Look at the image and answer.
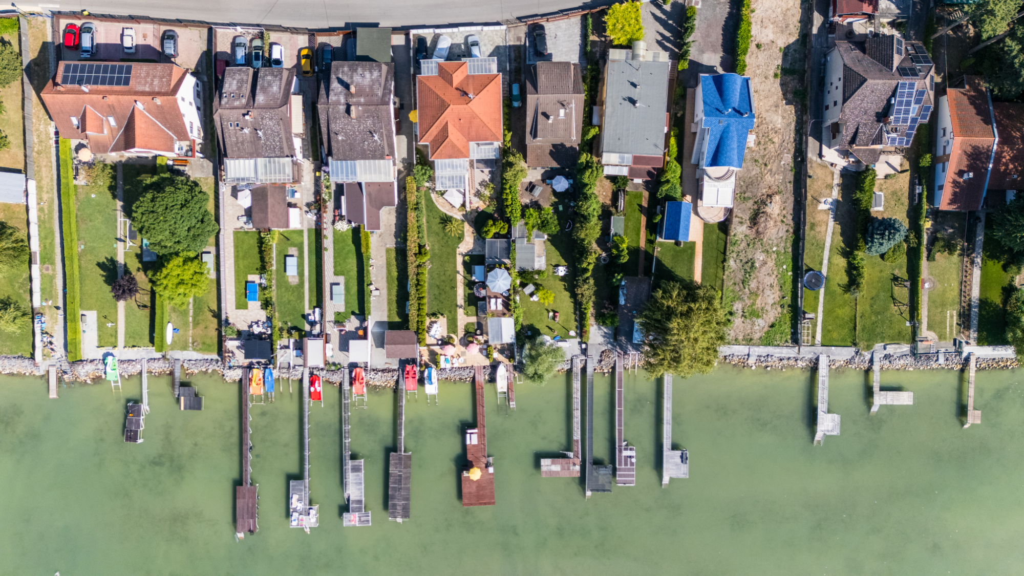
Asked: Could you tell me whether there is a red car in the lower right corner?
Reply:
No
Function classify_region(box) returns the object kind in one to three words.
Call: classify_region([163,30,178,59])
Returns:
car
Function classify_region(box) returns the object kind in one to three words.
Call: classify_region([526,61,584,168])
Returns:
house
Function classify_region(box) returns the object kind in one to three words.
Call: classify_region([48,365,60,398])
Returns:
pier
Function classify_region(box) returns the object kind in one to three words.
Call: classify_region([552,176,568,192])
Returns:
umbrella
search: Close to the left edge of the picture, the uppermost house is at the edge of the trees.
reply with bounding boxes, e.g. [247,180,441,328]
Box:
[40,61,202,159]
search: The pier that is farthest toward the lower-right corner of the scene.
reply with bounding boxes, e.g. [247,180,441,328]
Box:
[961,353,981,429]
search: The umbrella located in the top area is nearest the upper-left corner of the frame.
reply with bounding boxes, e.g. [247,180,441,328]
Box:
[78,148,95,162]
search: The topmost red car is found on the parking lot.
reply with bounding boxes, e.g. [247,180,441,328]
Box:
[64,24,80,51]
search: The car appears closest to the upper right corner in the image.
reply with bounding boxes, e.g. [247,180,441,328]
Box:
[532,25,547,57]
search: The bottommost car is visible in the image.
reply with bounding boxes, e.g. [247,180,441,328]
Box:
[509,83,522,107]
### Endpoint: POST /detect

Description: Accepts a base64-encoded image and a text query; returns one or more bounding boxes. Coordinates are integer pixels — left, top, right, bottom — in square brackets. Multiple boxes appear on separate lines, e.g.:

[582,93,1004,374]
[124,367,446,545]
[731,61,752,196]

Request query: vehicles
[299,48,314,77]
[532,25,547,57]
[432,34,451,61]
[250,39,265,68]
[469,35,482,58]
[122,28,137,54]
[163,30,178,59]
[80,24,97,55]
[344,36,356,62]
[64,24,80,51]
[271,43,284,68]
[509,83,522,107]
[320,43,334,63]
[235,36,249,66]
[415,36,429,65]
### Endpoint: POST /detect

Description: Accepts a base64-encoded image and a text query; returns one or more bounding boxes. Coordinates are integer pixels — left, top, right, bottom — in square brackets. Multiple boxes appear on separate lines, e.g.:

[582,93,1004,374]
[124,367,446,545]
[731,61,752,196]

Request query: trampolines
[808,270,824,290]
